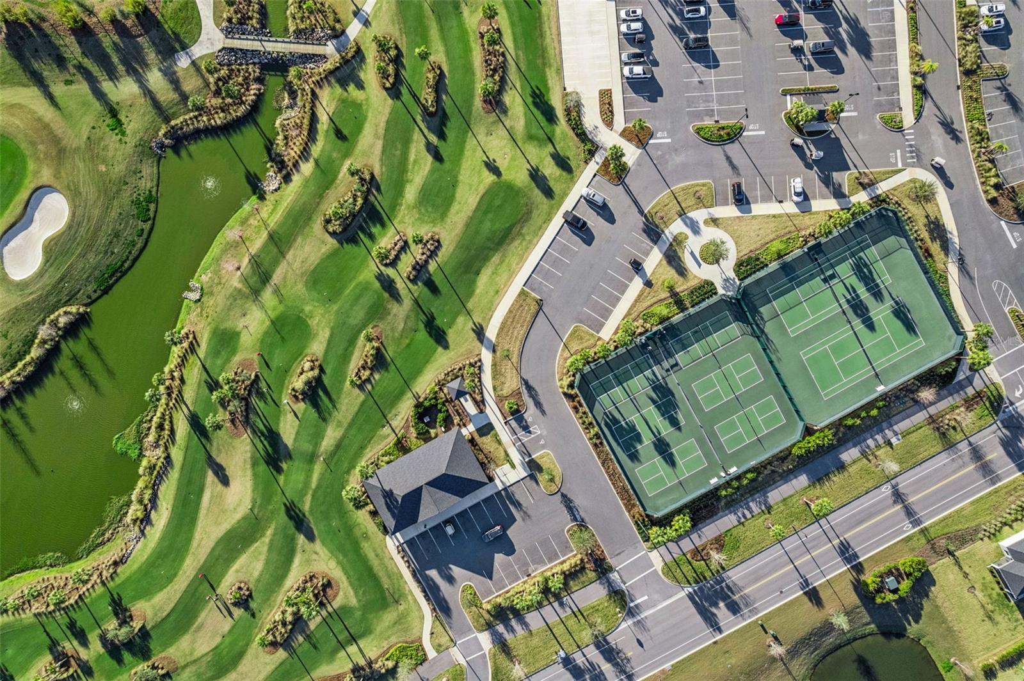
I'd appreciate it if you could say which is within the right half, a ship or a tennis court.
tennis court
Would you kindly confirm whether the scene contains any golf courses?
Yes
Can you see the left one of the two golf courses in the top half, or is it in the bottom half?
top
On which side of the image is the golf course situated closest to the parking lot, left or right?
left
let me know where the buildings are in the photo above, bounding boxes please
[446,377,469,400]
[994,530,1024,606]
[363,427,489,535]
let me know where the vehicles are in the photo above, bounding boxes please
[619,7,642,21]
[682,0,706,6]
[555,645,567,659]
[633,34,645,45]
[582,188,606,207]
[978,18,1004,32]
[629,259,642,270]
[731,181,744,205]
[927,157,944,168]
[978,3,1005,15]
[623,65,652,79]
[445,521,456,535]
[774,13,800,26]
[788,137,803,149]
[561,209,588,231]
[620,21,643,35]
[622,51,645,64]
[683,5,706,19]
[683,35,709,49]
[788,40,802,51]
[807,151,823,161]
[808,40,835,53]
[790,177,803,203]
[481,524,505,542]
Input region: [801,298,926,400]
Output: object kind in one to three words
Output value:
tennis court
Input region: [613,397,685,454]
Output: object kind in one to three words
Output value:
sports court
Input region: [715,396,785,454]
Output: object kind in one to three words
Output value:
sports court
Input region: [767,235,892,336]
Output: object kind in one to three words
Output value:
tennis court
